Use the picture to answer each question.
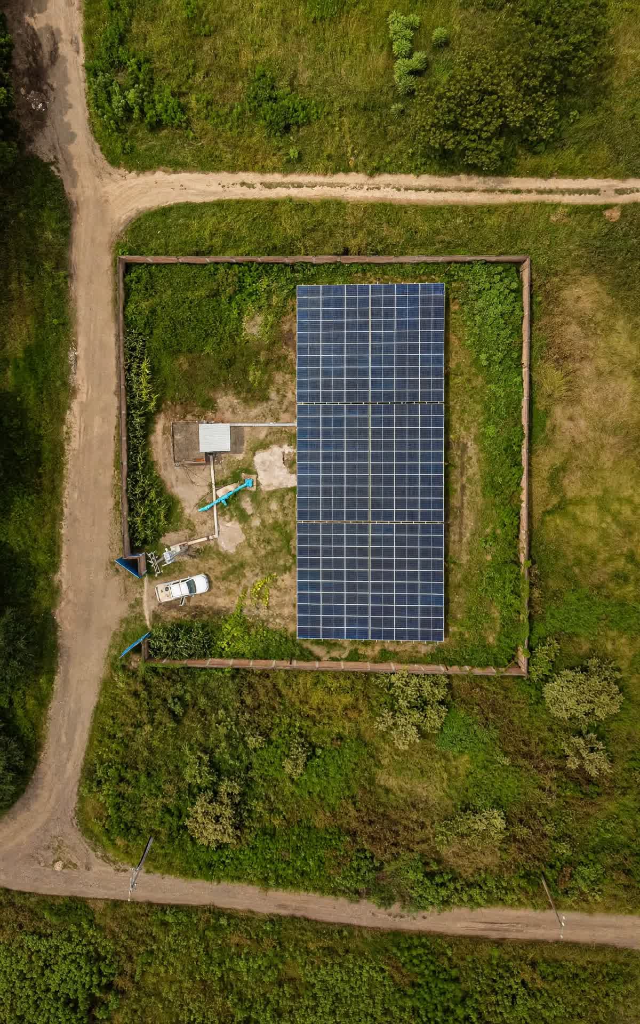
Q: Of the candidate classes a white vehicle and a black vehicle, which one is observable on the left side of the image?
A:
white vehicle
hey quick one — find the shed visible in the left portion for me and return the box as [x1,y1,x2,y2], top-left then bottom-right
[199,424,231,458]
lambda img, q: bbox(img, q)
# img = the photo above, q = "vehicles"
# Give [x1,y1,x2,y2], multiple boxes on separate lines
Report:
[154,575,211,606]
